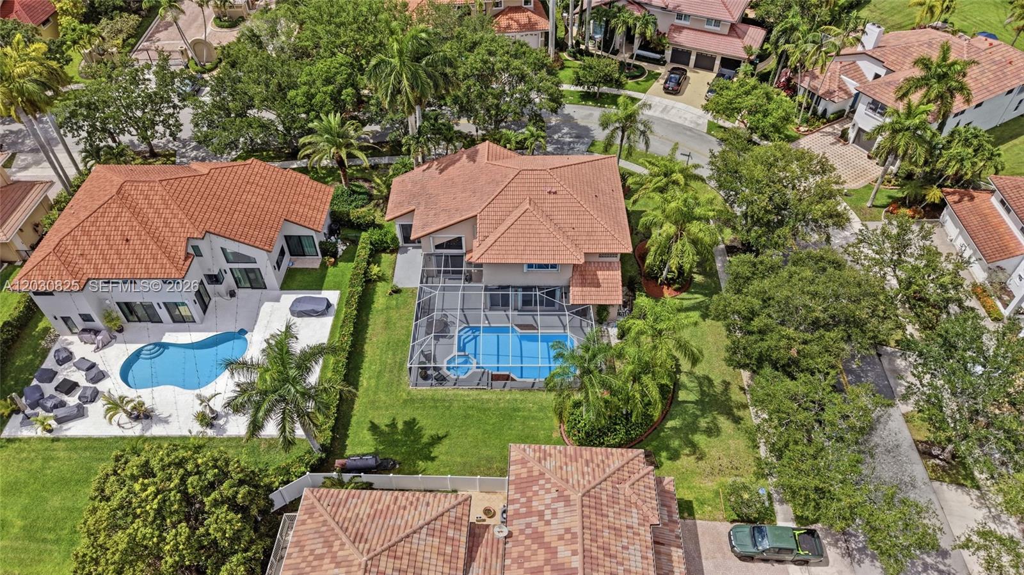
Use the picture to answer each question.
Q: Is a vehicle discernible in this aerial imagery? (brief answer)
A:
Yes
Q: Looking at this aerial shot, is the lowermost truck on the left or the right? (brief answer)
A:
right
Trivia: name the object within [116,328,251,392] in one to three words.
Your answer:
swimming pool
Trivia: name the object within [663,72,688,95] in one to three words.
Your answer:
car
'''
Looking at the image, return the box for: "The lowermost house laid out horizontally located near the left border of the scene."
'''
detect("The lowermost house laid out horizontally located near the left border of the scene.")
[4,160,336,333]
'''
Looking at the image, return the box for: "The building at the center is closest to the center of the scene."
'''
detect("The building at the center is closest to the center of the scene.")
[384,140,634,323]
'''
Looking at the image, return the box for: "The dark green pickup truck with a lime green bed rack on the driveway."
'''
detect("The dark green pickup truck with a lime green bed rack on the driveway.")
[727,523,829,568]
